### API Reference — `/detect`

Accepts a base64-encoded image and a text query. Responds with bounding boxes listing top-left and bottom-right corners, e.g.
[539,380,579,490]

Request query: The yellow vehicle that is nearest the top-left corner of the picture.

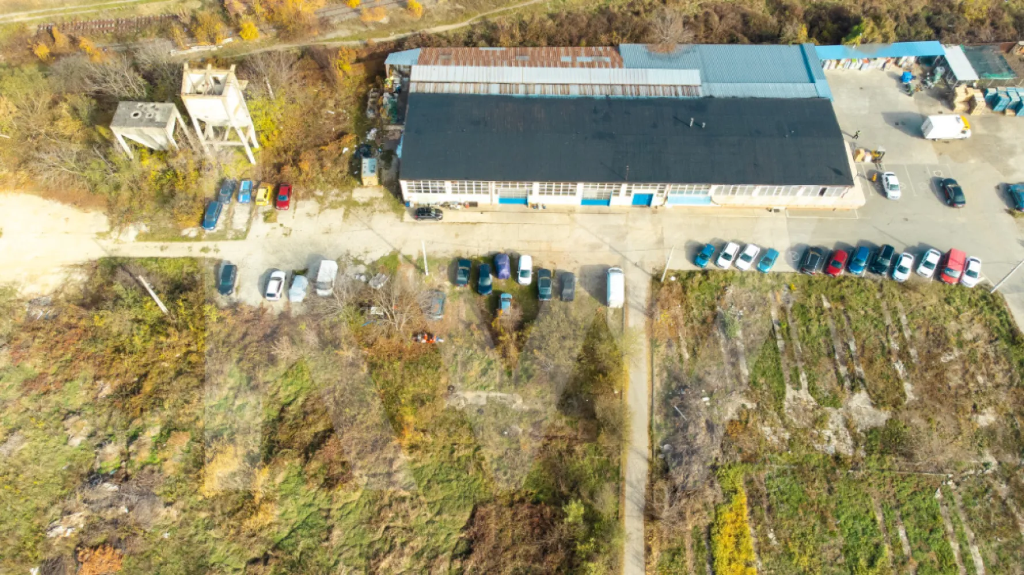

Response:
[254,181,274,207]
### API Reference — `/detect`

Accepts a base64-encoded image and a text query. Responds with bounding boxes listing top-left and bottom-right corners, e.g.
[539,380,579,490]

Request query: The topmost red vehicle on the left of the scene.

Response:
[274,182,294,211]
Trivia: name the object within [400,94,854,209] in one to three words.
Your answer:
warehouse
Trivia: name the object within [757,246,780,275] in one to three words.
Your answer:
car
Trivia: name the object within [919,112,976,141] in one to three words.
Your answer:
truck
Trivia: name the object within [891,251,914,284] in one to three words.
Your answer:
car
